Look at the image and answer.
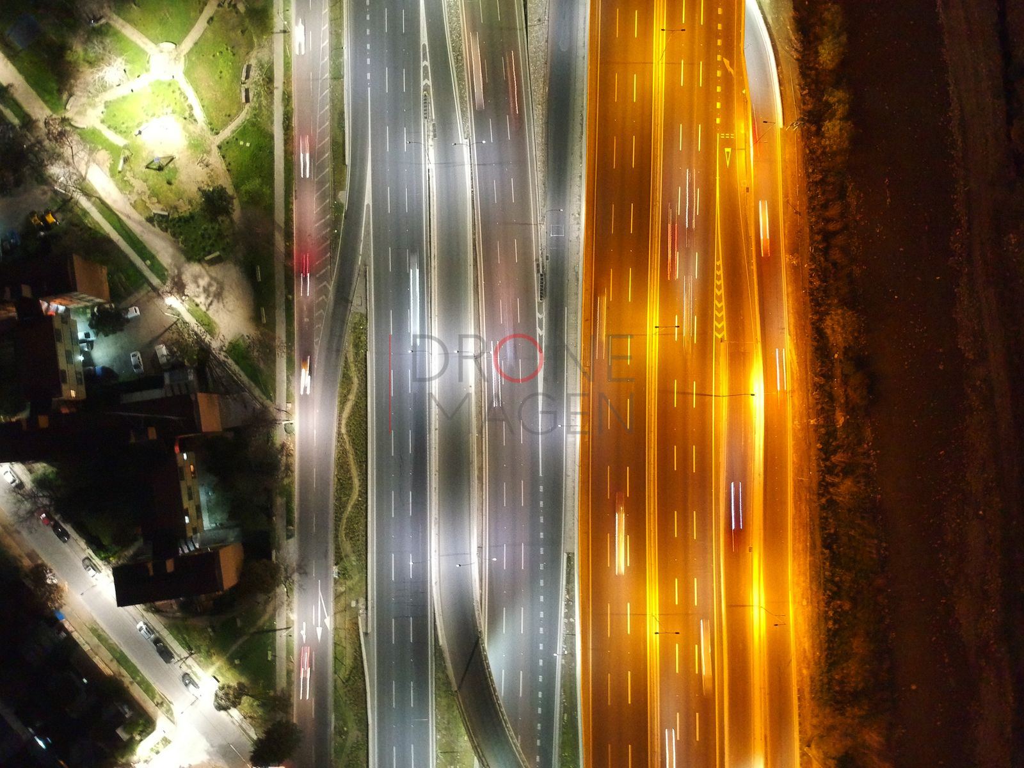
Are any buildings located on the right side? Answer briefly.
No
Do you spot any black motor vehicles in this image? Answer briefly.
Yes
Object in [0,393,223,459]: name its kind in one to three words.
building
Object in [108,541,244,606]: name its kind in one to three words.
building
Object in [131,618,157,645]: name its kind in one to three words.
truck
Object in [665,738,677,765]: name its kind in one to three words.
vehicle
